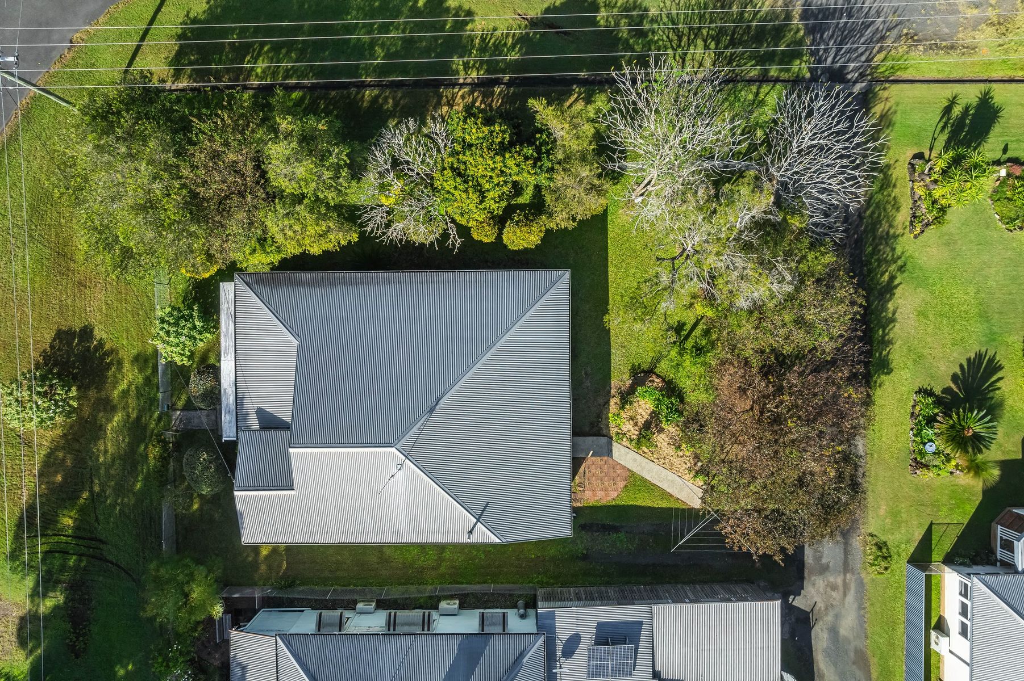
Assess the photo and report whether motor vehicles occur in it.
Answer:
No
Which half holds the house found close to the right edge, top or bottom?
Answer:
bottom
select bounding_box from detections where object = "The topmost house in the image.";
[219,268,574,545]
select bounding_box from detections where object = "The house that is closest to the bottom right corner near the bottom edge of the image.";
[937,508,1024,681]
